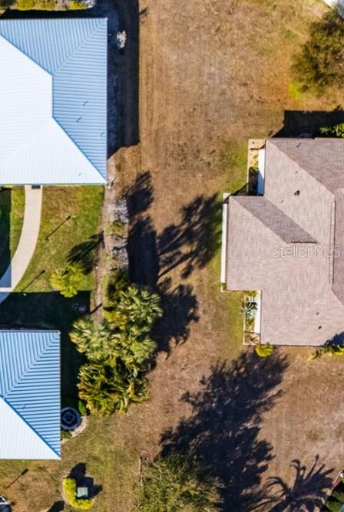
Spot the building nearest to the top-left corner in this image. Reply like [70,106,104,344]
[0,17,108,185]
